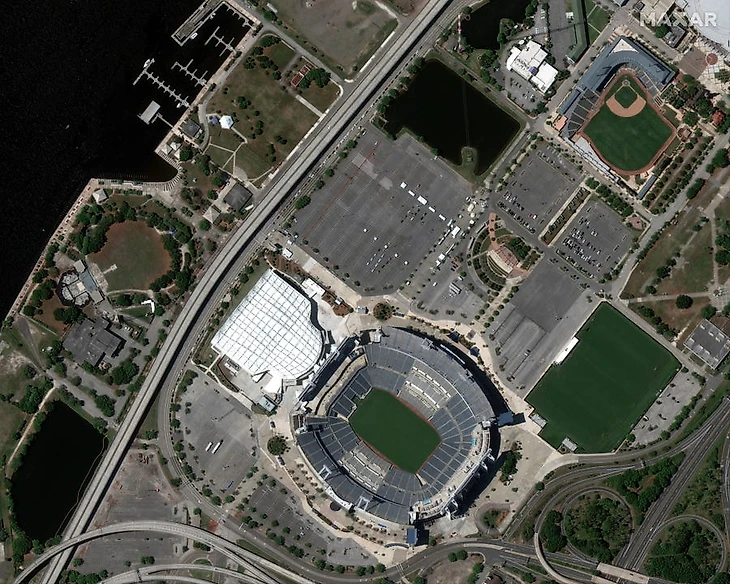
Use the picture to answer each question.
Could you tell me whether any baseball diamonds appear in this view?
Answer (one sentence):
Yes, the picture does show a baseball diamond.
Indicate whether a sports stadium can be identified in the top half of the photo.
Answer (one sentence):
Yes, a sports stadium appears in the top half of the photo.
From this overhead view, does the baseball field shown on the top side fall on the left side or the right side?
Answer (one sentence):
You can find the baseball field shown on the top side on the right side of the picture.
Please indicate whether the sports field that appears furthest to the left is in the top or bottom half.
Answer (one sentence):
The sports field that appears furthest to the left sits in the bottom half of the picture.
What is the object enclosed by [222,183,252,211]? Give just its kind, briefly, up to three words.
building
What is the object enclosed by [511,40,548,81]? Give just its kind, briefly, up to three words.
building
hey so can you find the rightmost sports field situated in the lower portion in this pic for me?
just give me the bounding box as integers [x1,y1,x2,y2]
[525,300,682,455]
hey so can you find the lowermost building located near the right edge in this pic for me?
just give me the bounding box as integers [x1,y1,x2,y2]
[684,319,730,370]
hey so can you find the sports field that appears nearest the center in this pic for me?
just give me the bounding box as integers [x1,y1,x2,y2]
[349,387,441,474]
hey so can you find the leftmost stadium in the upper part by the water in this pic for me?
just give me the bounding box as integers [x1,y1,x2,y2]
[552,36,678,195]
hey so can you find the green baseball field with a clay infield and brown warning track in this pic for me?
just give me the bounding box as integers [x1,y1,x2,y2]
[579,71,677,174]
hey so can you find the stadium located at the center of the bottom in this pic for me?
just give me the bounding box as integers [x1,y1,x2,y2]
[295,326,496,528]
